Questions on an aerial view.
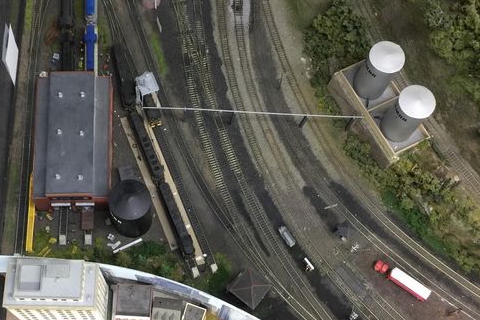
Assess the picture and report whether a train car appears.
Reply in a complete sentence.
Yes, there's a train car down there.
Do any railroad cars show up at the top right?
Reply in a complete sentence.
No, I see no railroad car at the top right.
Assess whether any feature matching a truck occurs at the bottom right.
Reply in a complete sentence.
Yes, looking at the bottom right, one can make out a truck.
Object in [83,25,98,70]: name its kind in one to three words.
rail car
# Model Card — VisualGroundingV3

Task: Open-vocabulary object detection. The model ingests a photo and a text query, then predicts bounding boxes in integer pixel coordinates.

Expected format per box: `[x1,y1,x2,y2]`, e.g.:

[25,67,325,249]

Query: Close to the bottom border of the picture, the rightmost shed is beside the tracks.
[229,267,270,308]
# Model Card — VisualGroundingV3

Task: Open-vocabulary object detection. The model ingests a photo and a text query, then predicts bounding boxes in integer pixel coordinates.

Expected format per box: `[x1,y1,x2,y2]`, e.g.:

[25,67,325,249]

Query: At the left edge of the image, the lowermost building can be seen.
[3,257,111,320]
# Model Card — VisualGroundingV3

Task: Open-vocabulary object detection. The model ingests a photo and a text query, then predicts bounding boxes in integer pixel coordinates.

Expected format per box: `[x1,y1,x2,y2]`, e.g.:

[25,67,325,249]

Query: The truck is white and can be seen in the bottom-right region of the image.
[371,260,433,302]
